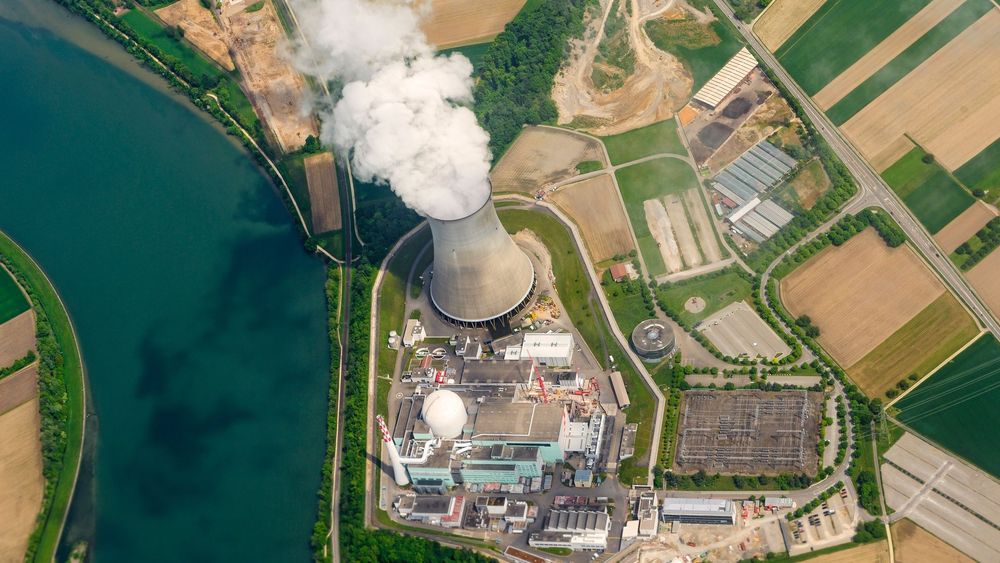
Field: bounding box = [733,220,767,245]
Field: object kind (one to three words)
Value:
greenhouse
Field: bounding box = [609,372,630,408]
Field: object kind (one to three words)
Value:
shed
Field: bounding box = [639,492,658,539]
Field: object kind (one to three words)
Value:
building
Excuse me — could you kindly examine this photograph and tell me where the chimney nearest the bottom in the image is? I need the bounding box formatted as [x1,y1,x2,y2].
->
[378,417,409,486]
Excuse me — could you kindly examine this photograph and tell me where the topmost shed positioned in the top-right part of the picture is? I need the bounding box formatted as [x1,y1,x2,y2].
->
[690,52,767,111]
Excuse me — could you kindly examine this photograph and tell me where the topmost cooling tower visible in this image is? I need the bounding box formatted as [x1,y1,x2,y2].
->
[425,173,539,331]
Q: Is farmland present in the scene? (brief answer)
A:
Yes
